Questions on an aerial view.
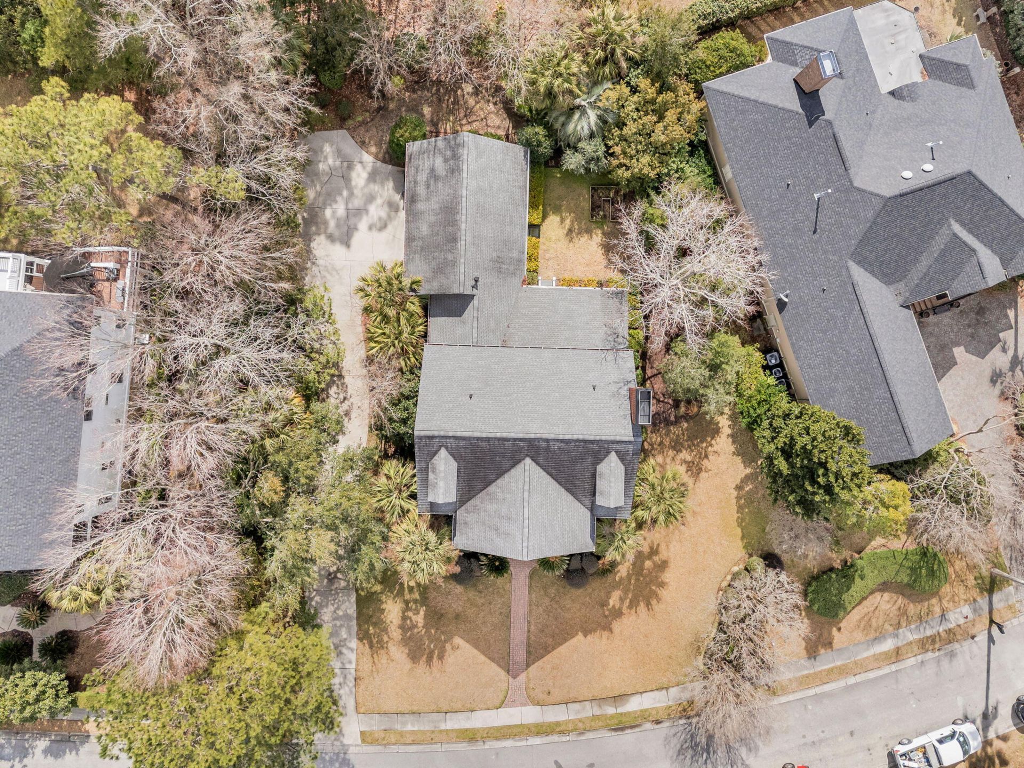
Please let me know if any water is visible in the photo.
No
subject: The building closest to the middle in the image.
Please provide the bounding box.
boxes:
[403,132,653,560]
